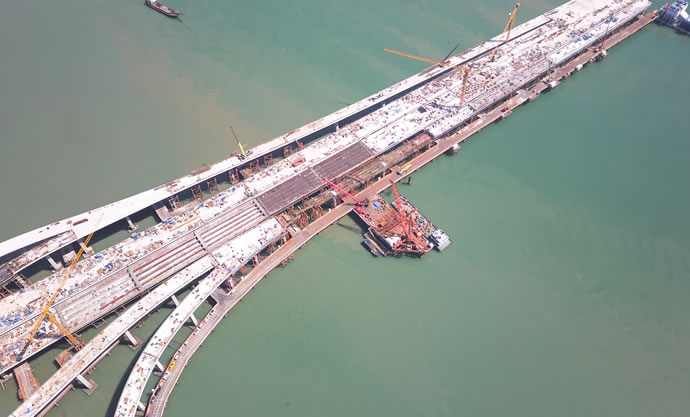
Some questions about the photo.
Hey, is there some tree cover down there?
No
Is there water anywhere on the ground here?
Yes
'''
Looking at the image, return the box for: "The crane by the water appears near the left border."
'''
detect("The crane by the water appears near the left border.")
[16,216,103,362]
